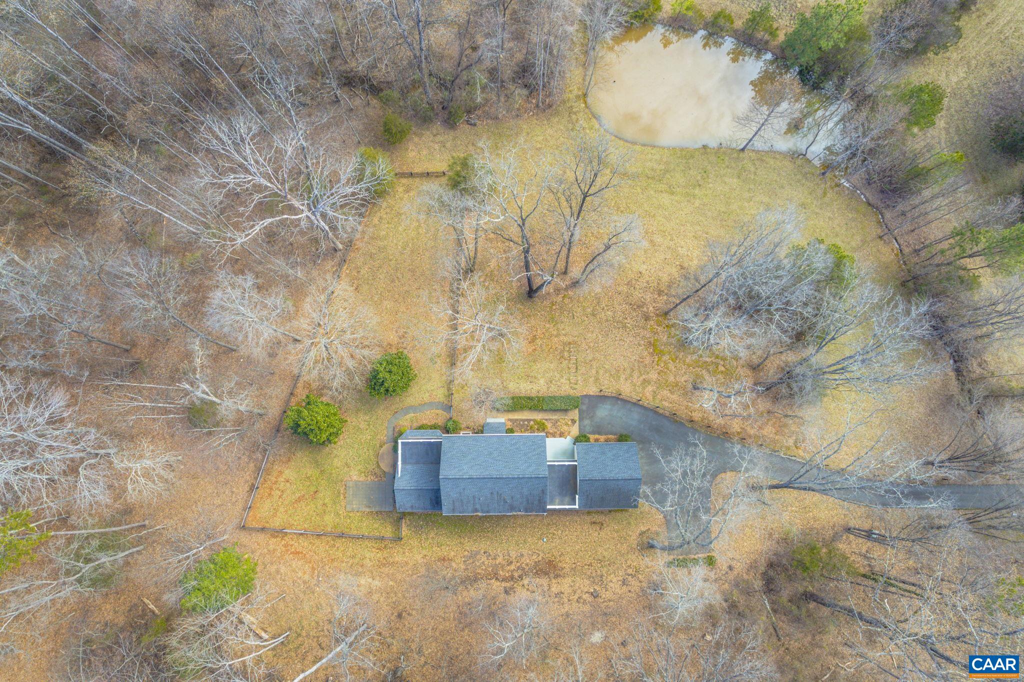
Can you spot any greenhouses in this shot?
No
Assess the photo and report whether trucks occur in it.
No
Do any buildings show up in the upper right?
No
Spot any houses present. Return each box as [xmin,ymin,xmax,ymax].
[395,418,643,516]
